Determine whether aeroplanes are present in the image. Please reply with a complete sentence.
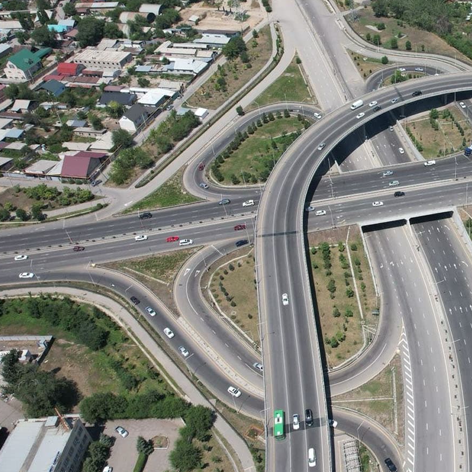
No, no aeroplane is visible in the scene.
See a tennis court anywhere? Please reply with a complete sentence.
No, the picture doesn't show any tennis court.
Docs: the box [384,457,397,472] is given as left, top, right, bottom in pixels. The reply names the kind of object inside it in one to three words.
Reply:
vehicle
